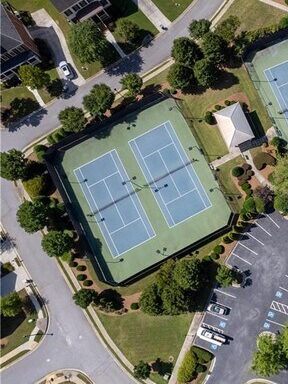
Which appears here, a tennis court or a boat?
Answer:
tennis court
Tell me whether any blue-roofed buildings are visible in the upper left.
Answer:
No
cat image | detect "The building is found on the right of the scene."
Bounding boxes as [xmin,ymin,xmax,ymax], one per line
[213,102,255,152]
